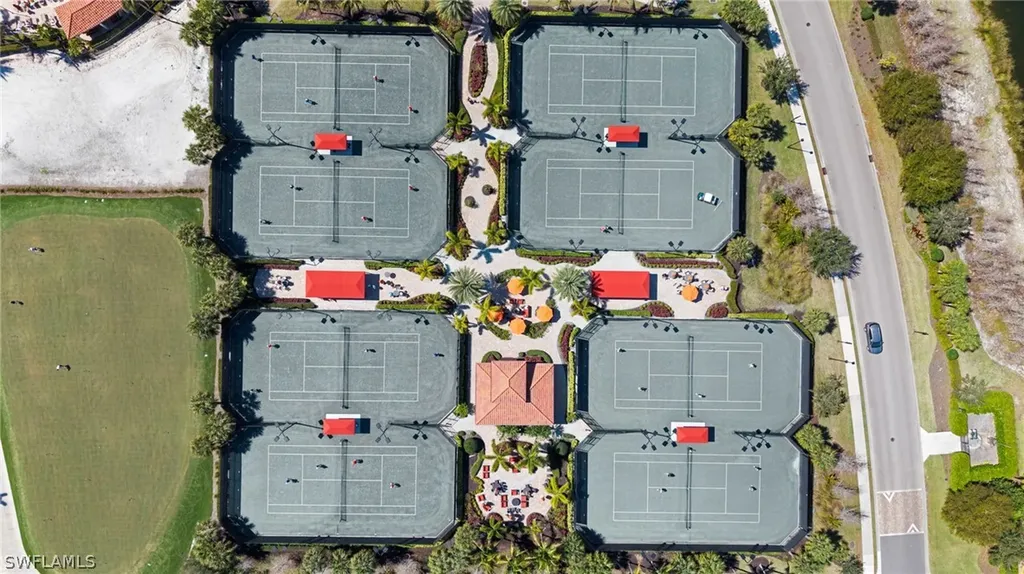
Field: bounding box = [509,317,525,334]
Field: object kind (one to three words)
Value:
umbrella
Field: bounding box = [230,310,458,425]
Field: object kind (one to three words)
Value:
tennis court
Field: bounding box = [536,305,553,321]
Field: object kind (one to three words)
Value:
umbrella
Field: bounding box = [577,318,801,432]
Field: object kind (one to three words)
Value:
tennis court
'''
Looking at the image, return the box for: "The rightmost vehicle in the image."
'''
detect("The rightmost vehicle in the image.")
[865,323,883,353]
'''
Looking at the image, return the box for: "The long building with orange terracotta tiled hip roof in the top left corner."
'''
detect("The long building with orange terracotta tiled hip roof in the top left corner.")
[50,0,154,42]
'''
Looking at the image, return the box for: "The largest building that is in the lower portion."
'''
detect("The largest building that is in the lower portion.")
[475,359,554,425]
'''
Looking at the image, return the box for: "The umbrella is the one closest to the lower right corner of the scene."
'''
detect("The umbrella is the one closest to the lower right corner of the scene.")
[682,284,699,301]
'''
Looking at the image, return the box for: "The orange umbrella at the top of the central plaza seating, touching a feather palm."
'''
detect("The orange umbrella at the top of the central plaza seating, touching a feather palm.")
[508,277,524,294]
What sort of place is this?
sports ground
